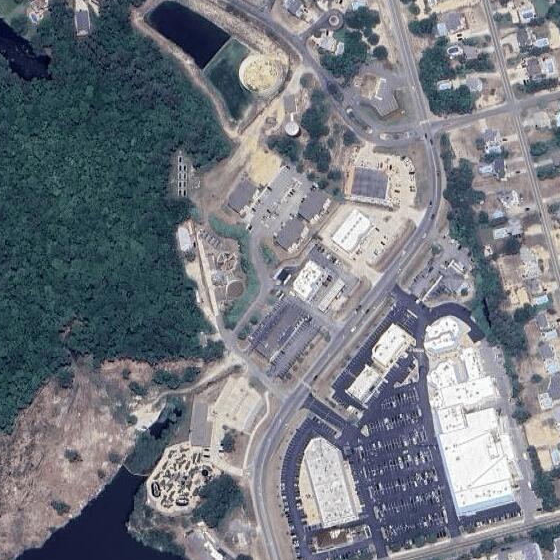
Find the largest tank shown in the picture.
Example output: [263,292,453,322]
[239,51,288,95]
